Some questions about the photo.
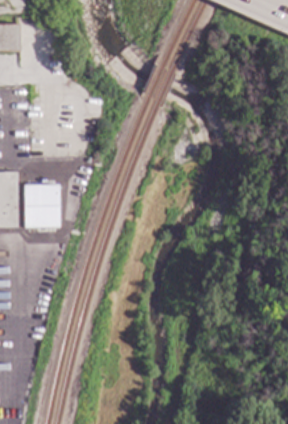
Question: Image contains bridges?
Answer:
Yes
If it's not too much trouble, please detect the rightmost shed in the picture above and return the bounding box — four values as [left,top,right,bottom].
[23,184,61,233]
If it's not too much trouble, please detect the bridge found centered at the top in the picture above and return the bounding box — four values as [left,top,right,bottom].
[142,61,181,107]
